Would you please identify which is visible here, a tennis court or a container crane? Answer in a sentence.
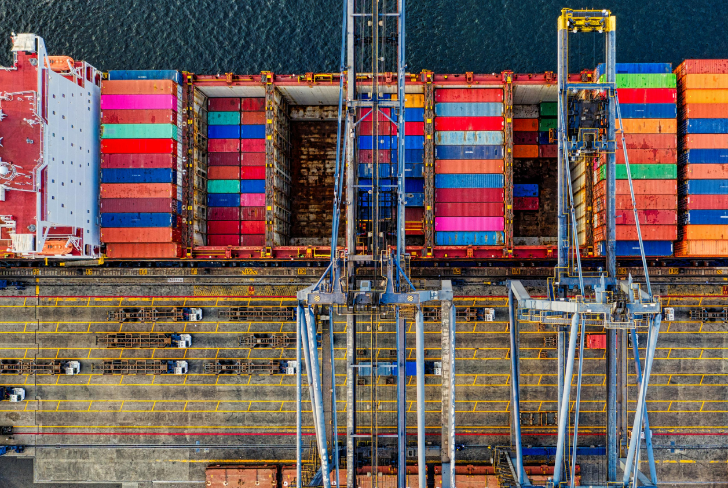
Of the two, only a container crane appears.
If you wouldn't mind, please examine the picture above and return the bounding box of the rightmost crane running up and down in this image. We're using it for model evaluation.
[479,1,662,488]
